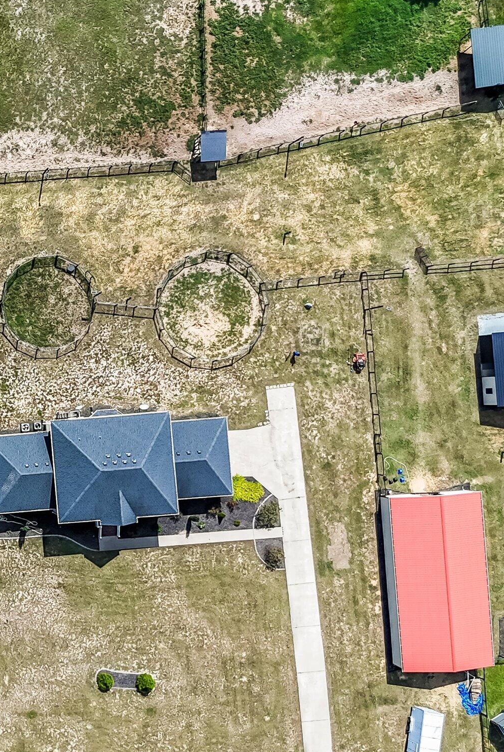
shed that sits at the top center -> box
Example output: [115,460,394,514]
[194,129,226,166]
